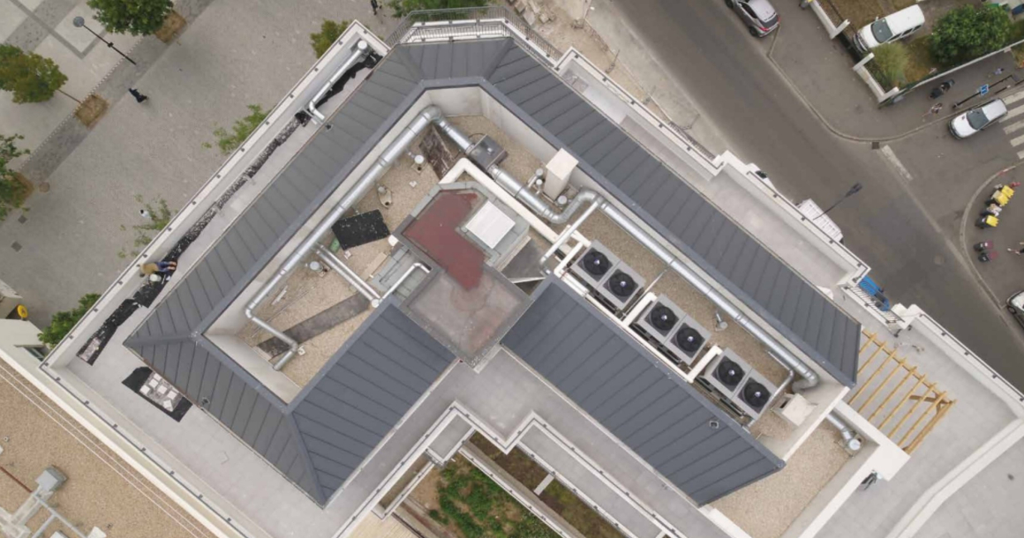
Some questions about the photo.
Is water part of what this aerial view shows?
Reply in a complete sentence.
No, the picture contains no water.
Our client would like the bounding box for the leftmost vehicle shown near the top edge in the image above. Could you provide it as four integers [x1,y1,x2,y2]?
[727,0,786,43]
